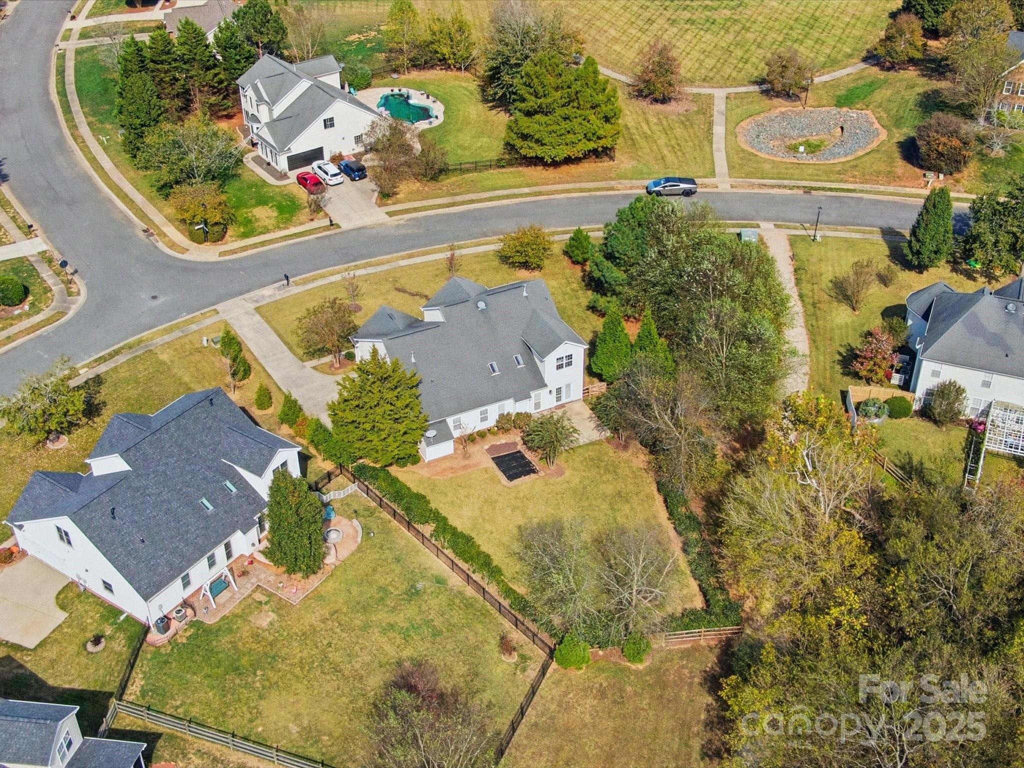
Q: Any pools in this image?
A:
Yes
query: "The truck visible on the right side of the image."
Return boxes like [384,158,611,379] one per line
[648,176,698,197]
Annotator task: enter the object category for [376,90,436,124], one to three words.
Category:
swimming pool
